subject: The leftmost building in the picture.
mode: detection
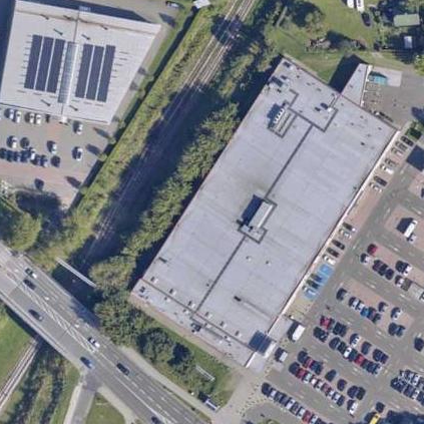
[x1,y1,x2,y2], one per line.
[0,0,160,124]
